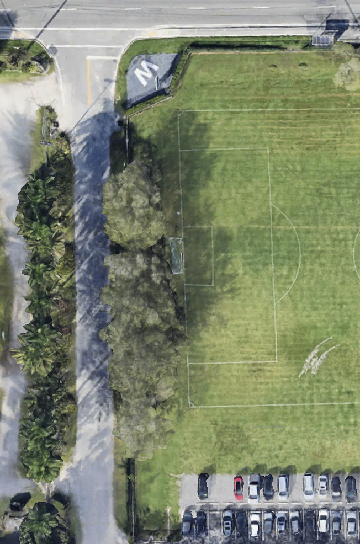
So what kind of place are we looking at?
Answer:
sports ground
